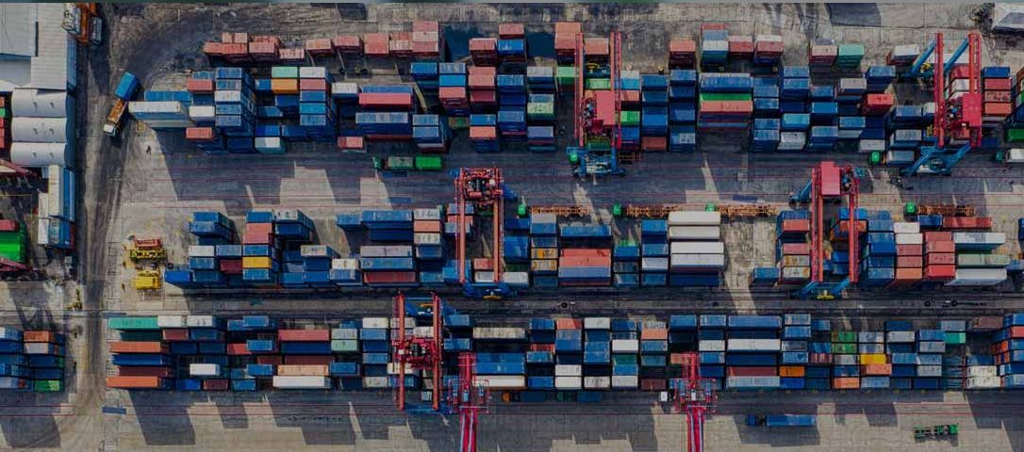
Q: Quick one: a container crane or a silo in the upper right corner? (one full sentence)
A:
The one visible in the upper right corner is a container crane.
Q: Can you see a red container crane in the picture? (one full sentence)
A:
Yes, there is a red container crane in the image.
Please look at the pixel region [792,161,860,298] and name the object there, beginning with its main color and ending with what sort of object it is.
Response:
red container crane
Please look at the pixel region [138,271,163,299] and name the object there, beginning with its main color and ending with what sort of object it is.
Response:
yellow work vehicle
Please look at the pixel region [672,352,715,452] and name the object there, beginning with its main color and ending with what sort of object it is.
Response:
red container crane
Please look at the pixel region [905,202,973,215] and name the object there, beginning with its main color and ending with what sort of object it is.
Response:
green vehicle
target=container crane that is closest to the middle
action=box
[455,168,516,299]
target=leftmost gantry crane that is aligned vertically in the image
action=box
[0,149,44,276]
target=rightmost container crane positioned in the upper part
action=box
[903,36,980,175]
